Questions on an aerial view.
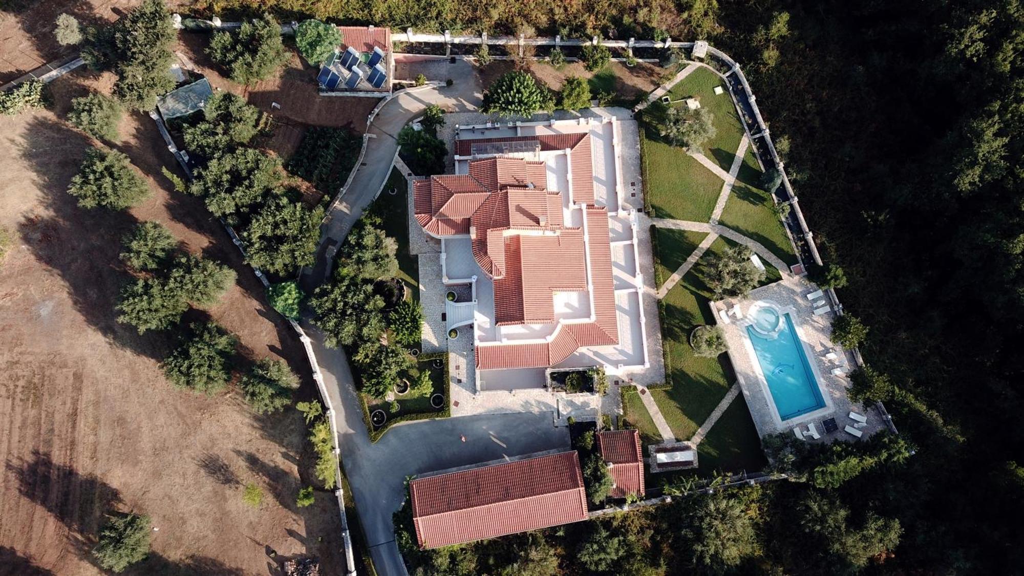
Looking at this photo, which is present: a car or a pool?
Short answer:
pool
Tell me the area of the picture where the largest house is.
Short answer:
center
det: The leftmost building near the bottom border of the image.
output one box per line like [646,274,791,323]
[409,451,589,549]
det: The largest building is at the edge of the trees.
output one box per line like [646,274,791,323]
[413,116,649,394]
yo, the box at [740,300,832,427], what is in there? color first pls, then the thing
blue swimming pool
